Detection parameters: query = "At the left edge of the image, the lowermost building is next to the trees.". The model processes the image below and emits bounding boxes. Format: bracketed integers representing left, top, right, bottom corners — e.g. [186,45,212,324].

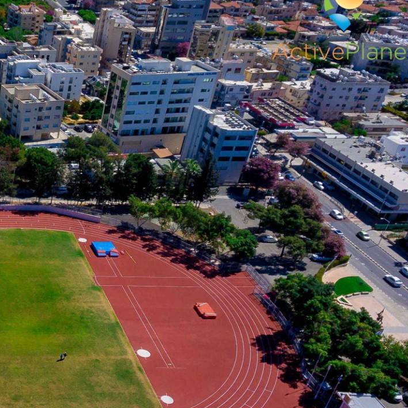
[0,81,64,141]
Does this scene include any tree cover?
Yes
